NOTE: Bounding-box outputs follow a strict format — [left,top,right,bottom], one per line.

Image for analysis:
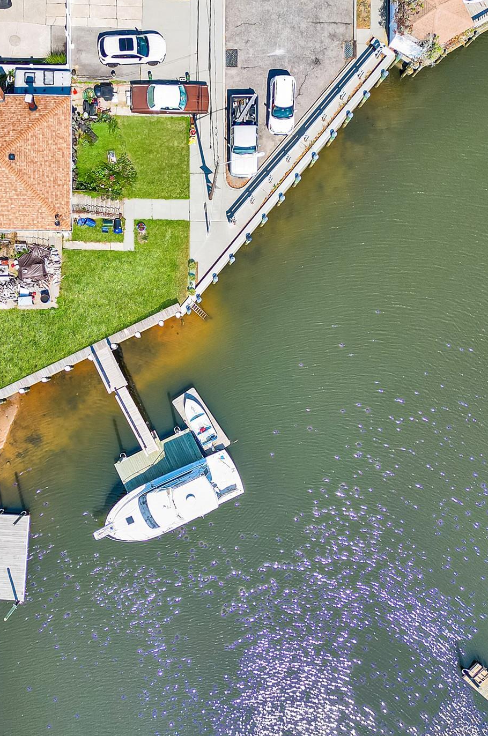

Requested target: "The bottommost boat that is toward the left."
[92,448,245,542]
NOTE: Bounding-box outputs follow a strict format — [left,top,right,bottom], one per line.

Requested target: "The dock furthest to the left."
[0,514,32,602]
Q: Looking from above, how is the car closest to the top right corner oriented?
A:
vertically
